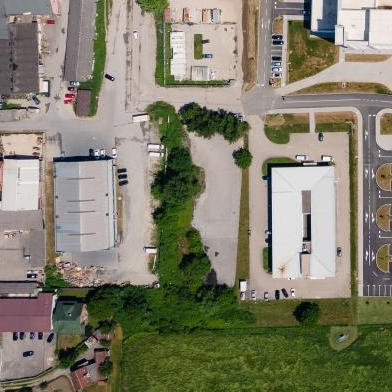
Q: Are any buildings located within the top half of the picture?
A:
Yes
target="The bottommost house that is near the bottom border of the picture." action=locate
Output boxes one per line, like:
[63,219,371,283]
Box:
[69,361,97,391]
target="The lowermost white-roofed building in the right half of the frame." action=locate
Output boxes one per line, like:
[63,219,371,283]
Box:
[271,162,336,278]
